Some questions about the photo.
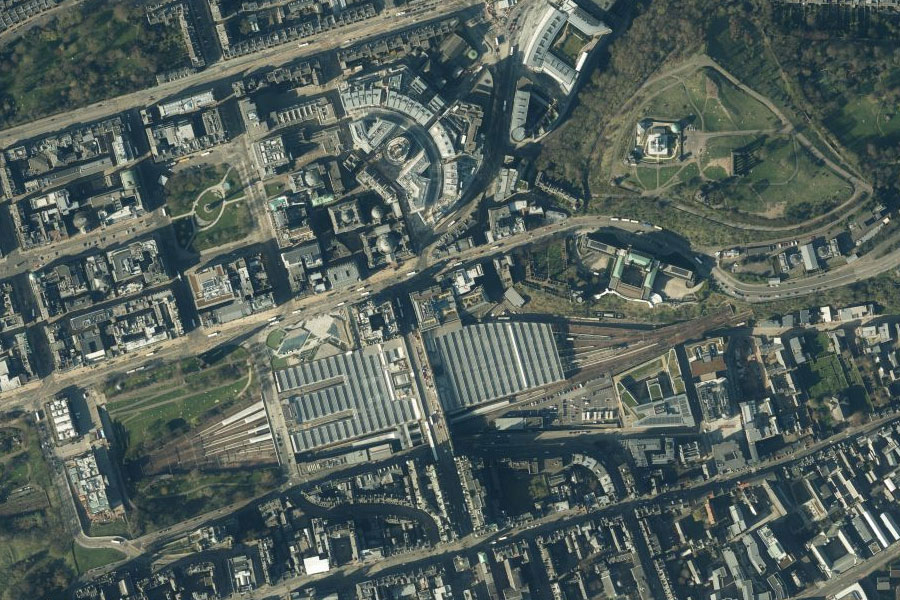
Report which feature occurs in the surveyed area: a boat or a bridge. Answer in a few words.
bridge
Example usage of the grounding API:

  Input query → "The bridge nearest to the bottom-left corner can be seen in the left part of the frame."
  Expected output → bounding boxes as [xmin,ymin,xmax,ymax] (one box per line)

[261,383,292,473]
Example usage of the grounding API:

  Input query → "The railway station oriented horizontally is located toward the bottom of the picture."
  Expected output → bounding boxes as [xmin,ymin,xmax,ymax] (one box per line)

[166,316,657,470]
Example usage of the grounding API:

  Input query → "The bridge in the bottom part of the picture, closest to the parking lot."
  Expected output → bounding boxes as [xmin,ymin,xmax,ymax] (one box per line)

[407,325,453,452]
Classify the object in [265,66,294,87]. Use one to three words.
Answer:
building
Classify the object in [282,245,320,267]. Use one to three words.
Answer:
building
